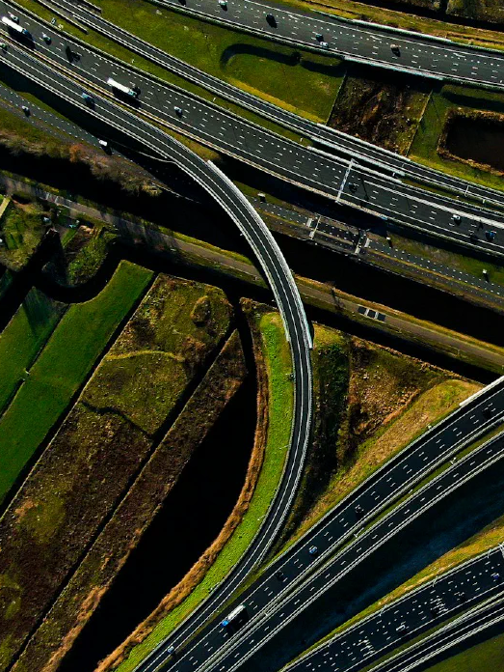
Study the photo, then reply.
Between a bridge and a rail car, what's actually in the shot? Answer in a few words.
bridge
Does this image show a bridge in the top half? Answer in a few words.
Yes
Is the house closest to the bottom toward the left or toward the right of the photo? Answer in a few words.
left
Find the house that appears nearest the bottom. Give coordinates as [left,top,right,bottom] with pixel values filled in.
[40,229,62,256]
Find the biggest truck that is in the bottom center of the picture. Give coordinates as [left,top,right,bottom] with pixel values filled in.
[220,603,247,627]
